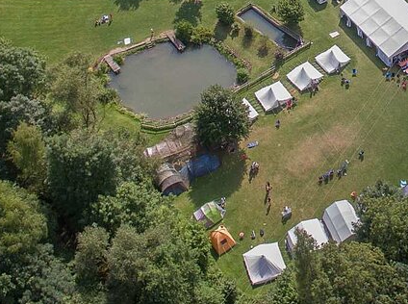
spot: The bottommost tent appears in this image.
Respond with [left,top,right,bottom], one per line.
[243,241,291,285]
